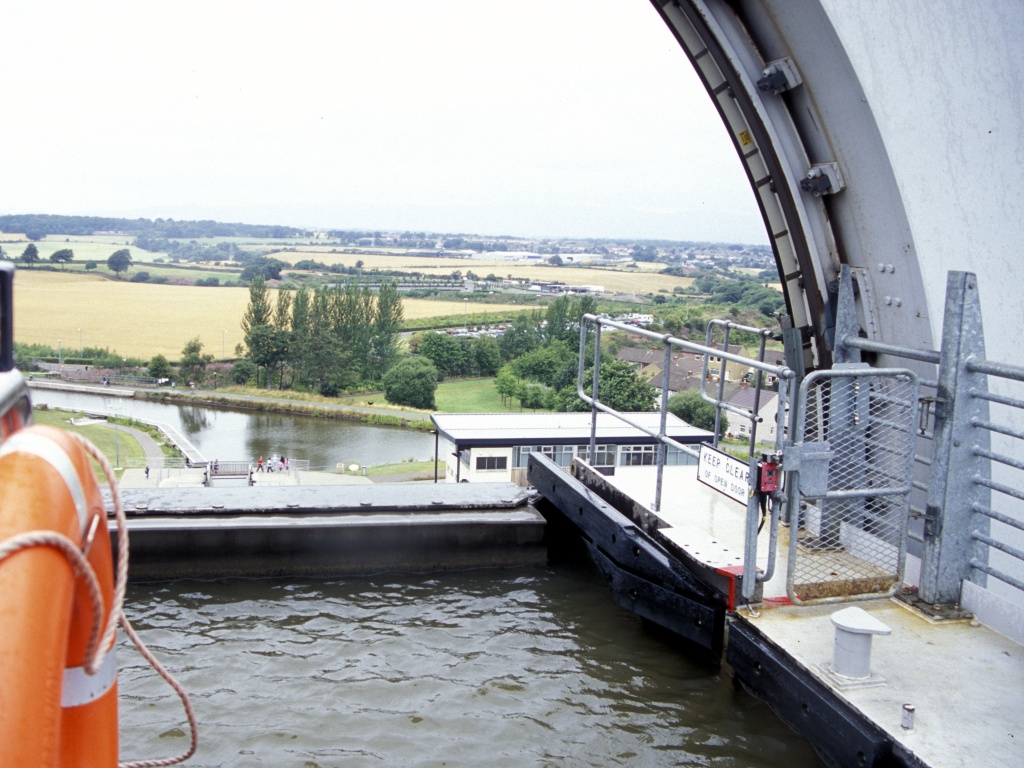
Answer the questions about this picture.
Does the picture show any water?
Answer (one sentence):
Yes, the picture does contain water.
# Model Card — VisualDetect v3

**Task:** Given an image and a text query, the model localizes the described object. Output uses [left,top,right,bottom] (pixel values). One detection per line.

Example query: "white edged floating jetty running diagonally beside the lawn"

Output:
[151,419,210,465]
